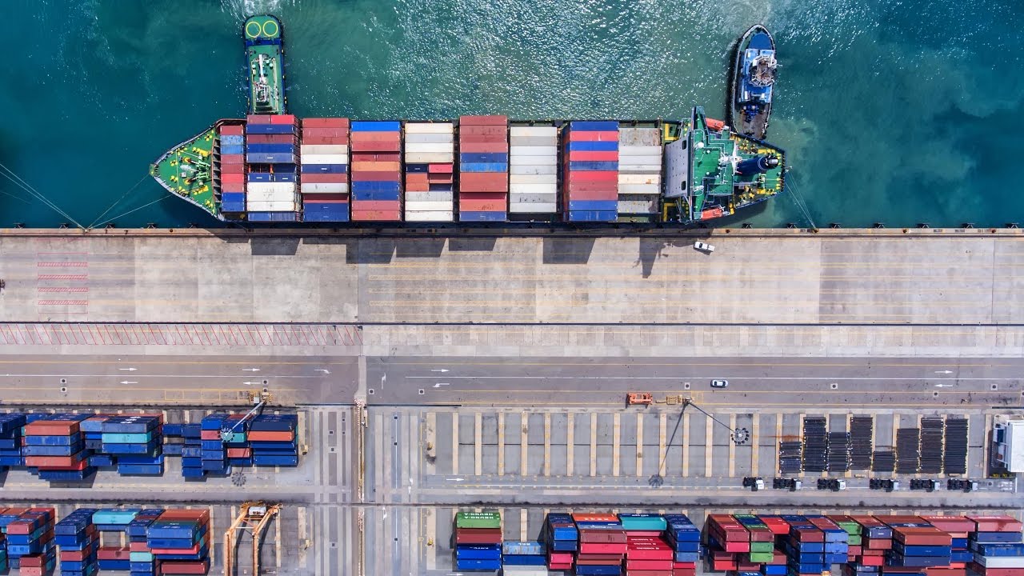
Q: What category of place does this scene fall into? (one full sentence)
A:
The picture captures a port.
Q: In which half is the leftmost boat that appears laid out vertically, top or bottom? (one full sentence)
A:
Seen from above, the leftmost boat that appears laid out vertically lies in the top half of the view.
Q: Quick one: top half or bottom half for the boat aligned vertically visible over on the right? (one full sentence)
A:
The top half of the photo is where the boat aligned vertically visible over on the right is.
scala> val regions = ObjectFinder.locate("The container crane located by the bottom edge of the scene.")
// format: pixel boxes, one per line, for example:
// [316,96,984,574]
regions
[223,501,283,576]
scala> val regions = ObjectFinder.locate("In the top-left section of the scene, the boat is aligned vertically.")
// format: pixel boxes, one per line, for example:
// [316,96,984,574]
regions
[242,12,287,115]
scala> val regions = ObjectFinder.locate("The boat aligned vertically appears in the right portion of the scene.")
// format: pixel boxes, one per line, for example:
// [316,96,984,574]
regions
[728,24,777,142]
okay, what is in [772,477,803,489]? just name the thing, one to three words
vehicle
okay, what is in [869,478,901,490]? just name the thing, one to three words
vehicle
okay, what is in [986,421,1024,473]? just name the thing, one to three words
shed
